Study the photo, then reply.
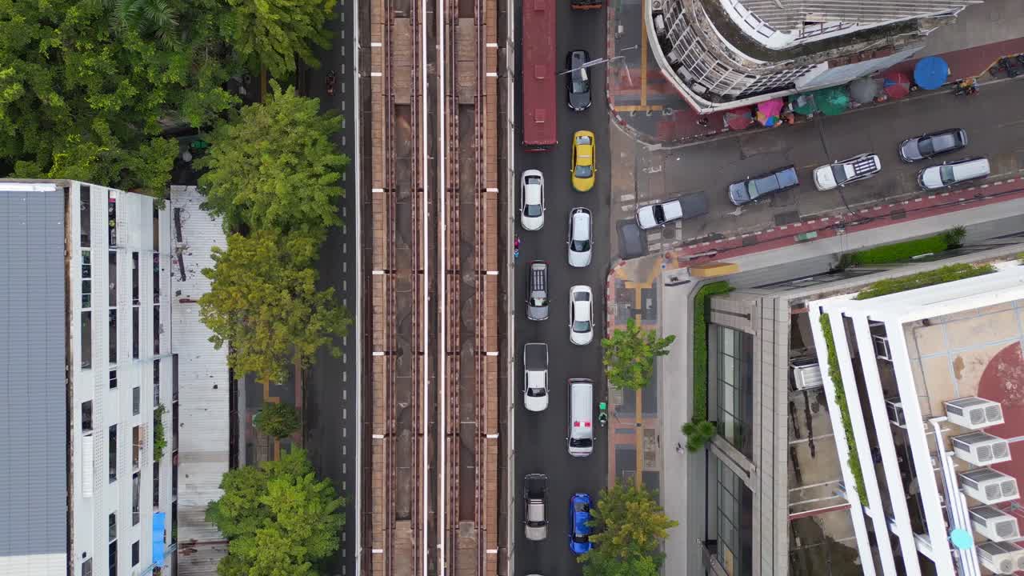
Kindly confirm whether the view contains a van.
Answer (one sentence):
Yes, I can see a van in this picture.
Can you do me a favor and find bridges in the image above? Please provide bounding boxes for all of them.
[354,0,513,576]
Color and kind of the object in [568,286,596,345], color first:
white car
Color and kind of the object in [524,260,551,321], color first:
gray truck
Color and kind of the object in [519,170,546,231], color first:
white car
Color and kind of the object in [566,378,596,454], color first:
white van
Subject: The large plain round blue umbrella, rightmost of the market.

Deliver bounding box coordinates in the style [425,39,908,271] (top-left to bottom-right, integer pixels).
[909,56,946,93]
